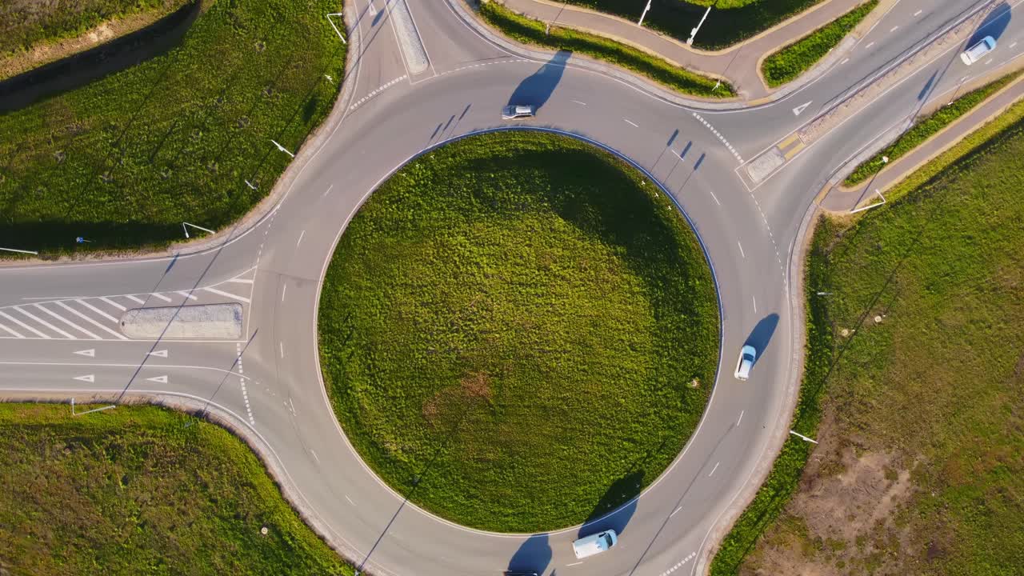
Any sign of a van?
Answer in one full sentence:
Yes, the photo shows a van.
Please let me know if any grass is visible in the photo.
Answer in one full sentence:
Yes, the picture does contain grass.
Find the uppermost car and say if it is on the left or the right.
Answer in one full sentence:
It is on the right.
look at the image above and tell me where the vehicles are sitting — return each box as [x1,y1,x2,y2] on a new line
[733,344,755,380]
[958,36,996,65]
[503,570,539,576]
[571,529,616,559]
[503,103,536,121]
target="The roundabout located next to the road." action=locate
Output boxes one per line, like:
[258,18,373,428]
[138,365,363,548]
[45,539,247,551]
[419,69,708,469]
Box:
[228,54,792,576]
